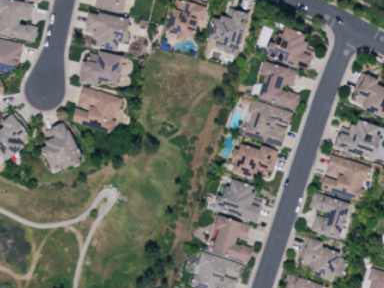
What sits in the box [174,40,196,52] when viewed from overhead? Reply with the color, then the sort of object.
blue swimming pool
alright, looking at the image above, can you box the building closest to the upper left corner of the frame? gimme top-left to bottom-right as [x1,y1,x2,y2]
[0,0,38,40]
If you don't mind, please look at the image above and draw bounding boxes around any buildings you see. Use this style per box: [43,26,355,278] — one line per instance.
[311,192,355,238]
[86,11,130,50]
[259,61,300,110]
[355,72,384,115]
[216,179,263,221]
[96,0,126,12]
[300,237,348,282]
[0,114,30,158]
[322,155,372,200]
[166,0,209,39]
[42,122,82,172]
[0,38,23,72]
[213,214,254,262]
[268,28,314,68]
[258,25,274,49]
[334,120,384,161]
[209,7,250,51]
[242,100,294,146]
[0,0,38,40]
[72,86,123,129]
[233,142,278,177]
[194,252,244,288]
[80,52,122,86]
[284,274,325,288]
